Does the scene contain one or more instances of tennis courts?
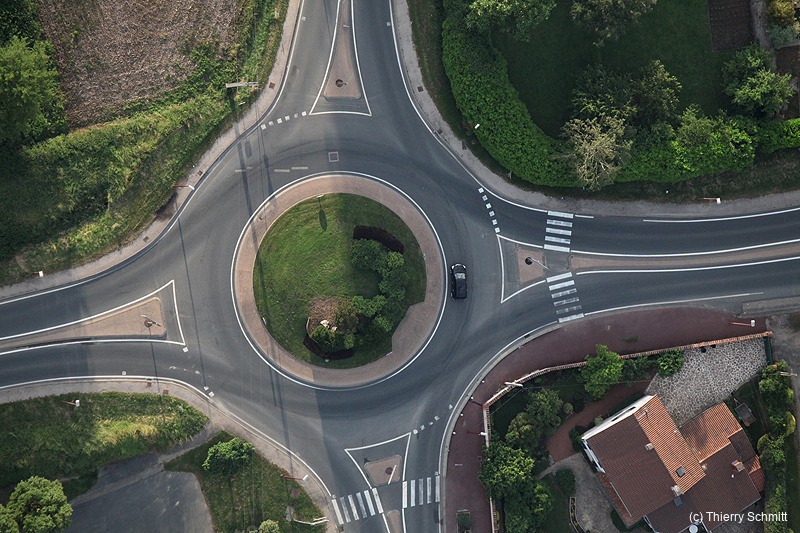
No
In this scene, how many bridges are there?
0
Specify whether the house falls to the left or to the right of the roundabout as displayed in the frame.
on the right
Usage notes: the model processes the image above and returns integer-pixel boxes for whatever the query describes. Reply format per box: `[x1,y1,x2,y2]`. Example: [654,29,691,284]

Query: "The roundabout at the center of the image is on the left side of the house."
[172,111,505,450]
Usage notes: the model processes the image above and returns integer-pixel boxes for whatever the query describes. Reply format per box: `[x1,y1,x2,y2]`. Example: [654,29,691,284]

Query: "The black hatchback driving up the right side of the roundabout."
[452,264,470,299]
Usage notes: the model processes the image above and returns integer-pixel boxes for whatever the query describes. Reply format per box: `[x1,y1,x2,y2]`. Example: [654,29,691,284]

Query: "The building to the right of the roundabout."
[584,393,764,533]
